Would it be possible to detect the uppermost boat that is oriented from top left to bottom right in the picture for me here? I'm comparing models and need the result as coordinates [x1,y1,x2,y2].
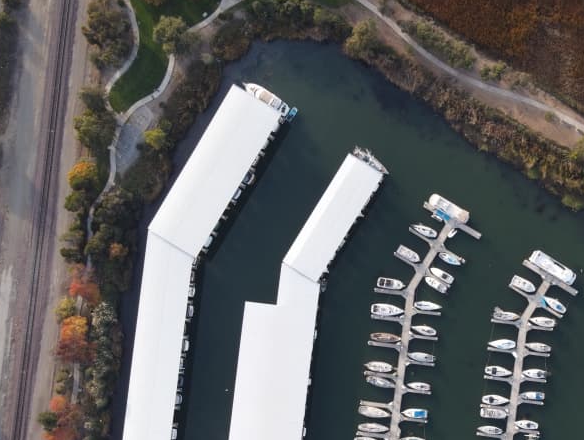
[240,80,290,120]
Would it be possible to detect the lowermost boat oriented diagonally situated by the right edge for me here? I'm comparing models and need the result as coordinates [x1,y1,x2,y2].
[545,297,567,315]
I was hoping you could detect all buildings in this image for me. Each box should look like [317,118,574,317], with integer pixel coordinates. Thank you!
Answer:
[122,84,282,440]
[229,153,384,440]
